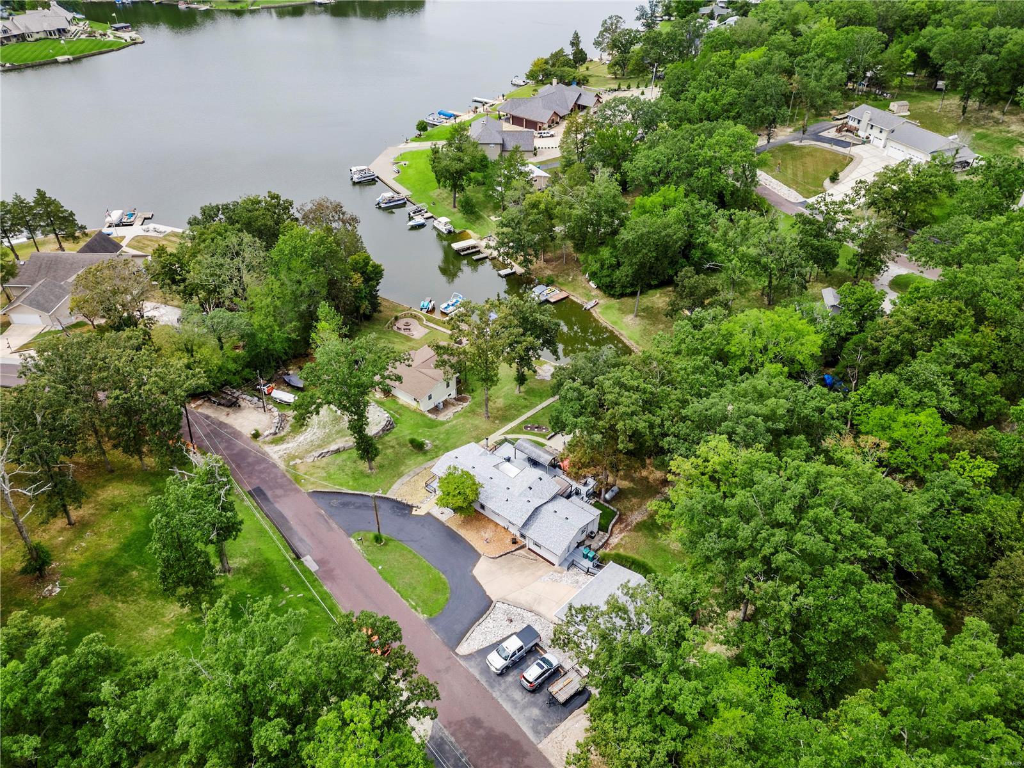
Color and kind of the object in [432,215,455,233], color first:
white boat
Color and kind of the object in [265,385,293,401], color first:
white boat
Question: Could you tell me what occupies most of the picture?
trees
